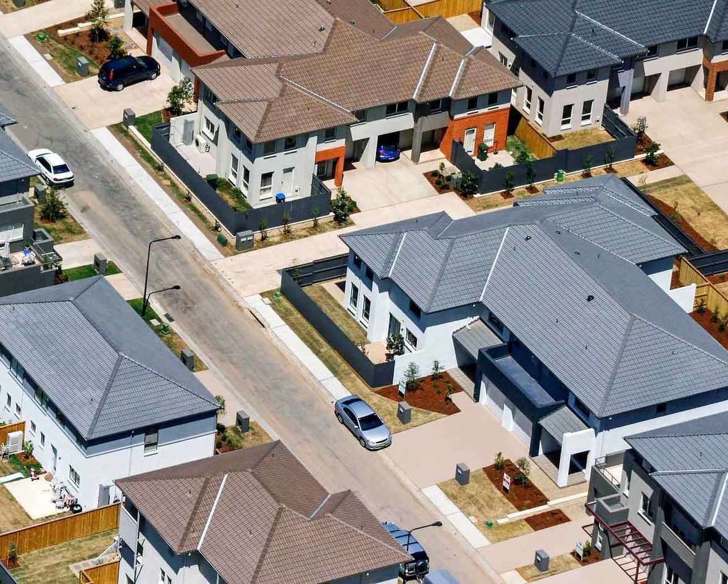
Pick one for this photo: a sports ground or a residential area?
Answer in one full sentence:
This looks like a residential area.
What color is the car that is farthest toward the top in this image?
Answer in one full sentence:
The car that is farthest toward the top looks black in the image.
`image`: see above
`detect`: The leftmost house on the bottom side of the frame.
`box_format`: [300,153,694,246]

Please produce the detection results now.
[0,273,222,513]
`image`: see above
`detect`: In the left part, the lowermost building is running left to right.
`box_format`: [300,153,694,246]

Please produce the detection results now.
[81,439,416,584]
